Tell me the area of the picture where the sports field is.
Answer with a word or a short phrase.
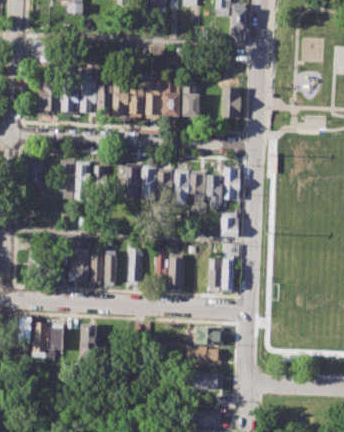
right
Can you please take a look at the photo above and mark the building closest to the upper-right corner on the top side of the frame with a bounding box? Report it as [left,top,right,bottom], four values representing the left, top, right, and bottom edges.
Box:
[232,2,247,28]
